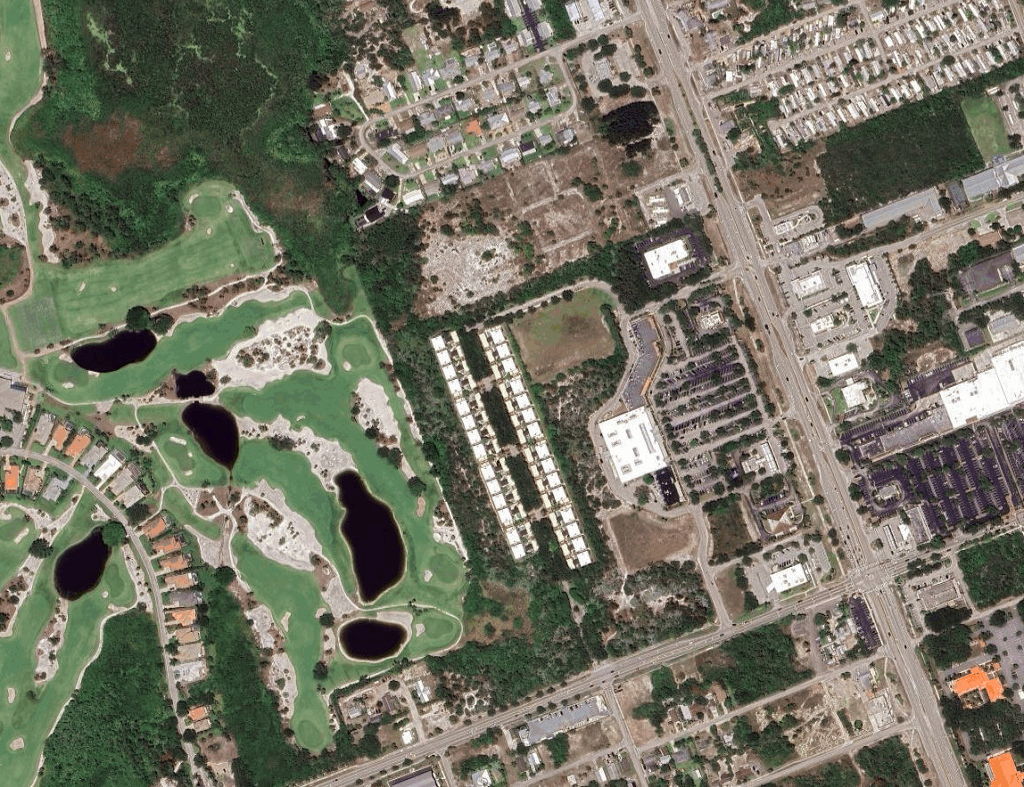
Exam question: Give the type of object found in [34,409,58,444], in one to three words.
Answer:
house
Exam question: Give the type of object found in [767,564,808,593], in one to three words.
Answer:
building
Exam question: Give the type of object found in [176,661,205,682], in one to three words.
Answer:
house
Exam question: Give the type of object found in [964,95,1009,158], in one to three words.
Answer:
sports field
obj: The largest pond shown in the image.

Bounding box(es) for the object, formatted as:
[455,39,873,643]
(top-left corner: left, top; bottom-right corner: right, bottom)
[335,470,405,605]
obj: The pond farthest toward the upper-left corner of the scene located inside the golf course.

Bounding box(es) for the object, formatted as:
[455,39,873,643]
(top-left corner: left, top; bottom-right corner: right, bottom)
[71,328,157,372]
